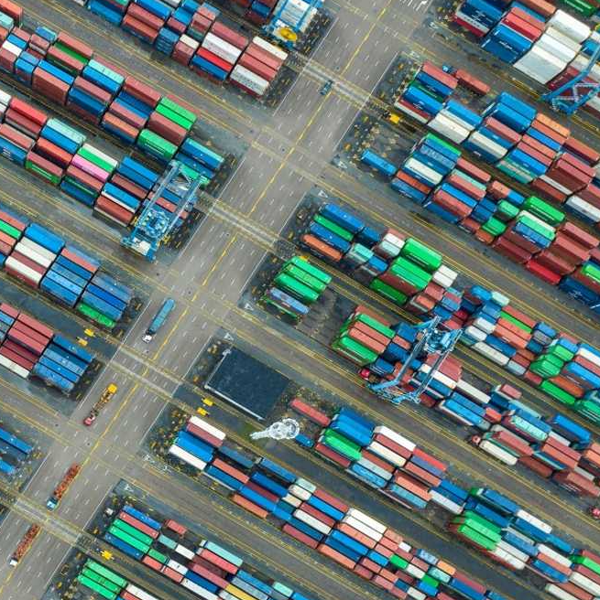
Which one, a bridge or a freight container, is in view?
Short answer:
freight container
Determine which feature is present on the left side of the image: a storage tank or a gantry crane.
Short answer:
gantry crane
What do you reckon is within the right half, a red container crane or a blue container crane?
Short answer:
blue container crane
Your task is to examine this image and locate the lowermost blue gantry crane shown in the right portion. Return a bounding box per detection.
[363,310,467,410]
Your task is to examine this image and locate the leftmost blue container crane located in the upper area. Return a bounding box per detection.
[118,156,204,266]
